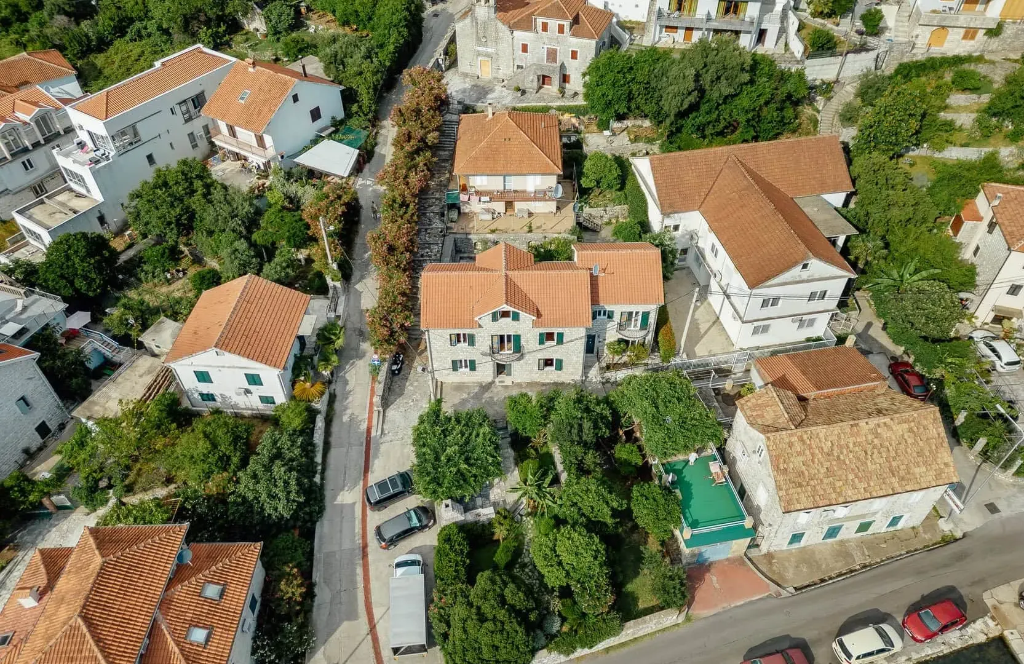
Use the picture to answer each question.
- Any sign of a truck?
Yes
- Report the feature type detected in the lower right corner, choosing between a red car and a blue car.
red car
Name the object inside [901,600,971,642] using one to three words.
car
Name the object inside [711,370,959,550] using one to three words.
house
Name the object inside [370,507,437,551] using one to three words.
car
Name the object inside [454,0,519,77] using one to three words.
building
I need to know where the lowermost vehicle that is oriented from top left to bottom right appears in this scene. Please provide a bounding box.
[888,358,934,404]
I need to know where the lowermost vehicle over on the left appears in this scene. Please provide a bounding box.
[387,554,428,658]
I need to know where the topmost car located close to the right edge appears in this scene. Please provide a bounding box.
[970,329,1024,376]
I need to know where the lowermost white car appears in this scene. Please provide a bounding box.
[830,623,905,664]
